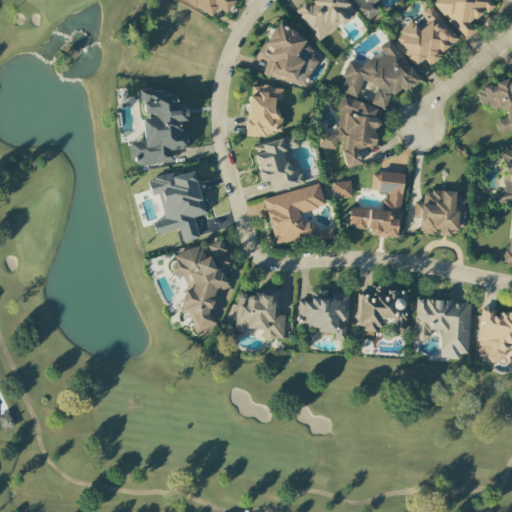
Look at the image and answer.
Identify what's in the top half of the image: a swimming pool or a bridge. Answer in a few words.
swimming pool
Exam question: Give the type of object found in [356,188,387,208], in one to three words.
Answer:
swimming pool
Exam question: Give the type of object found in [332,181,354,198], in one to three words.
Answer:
shed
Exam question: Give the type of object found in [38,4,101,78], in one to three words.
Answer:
pond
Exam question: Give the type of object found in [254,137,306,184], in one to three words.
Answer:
house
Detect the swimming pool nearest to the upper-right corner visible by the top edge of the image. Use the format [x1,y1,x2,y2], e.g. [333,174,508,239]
[400,1,426,23]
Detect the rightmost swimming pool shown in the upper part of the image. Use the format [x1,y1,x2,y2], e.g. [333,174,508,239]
[486,158,507,200]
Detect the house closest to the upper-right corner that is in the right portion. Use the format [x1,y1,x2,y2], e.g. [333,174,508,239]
[436,0,500,39]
